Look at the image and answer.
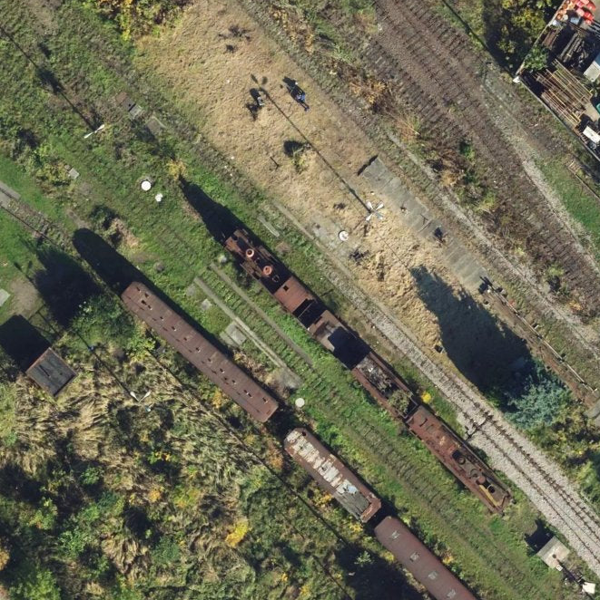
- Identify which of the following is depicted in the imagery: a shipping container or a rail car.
rail car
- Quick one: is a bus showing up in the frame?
Yes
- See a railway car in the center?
Yes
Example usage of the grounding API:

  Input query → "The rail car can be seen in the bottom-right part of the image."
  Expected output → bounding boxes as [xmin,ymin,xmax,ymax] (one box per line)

[404,406,516,516]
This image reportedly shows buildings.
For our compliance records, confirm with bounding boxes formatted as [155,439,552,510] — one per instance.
[25,346,77,396]
[536,537,570,568]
